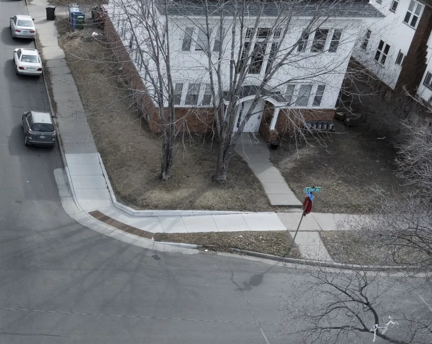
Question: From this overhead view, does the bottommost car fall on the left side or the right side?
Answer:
left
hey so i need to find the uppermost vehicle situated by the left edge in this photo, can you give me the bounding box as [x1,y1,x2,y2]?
[8,13,35,39]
